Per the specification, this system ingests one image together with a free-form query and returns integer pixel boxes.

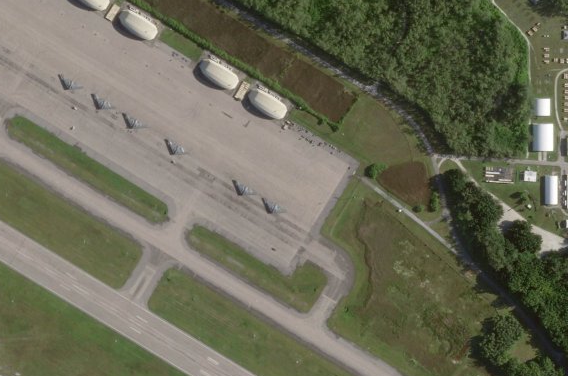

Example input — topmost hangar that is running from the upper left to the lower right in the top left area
[119,8,158,40]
